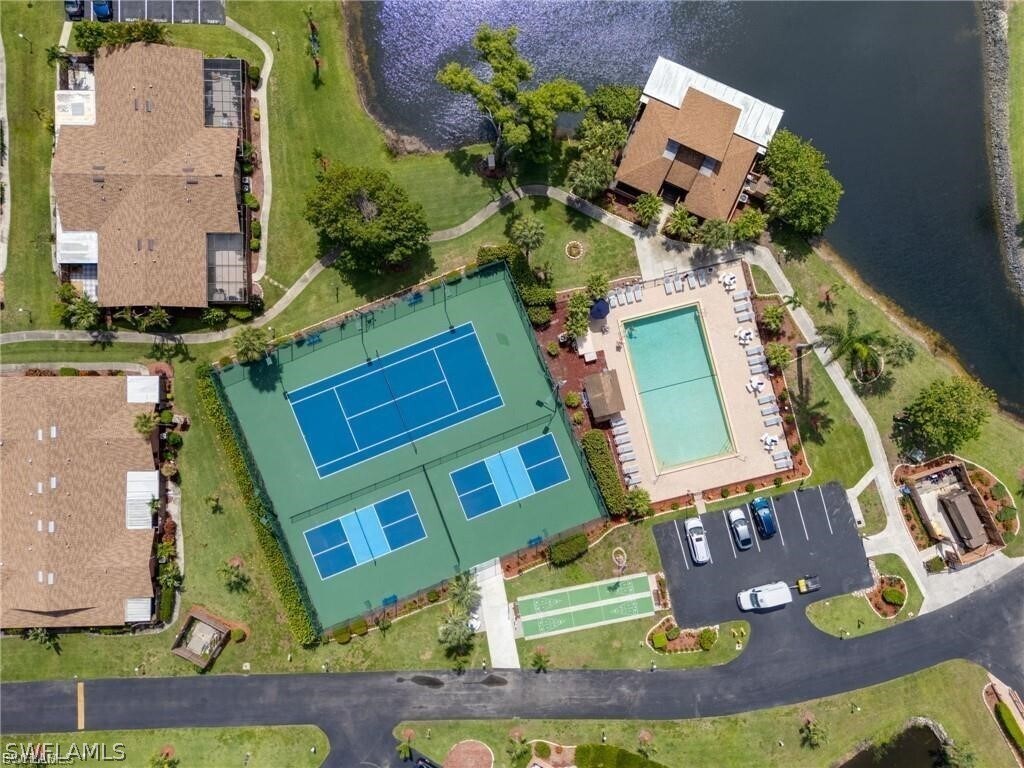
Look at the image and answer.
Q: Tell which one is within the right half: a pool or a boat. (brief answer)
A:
pool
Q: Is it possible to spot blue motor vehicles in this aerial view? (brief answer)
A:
Yes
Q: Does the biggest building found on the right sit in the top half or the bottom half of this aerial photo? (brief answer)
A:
top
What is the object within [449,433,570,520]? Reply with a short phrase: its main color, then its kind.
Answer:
blue sports court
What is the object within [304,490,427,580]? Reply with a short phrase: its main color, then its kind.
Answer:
blue sports court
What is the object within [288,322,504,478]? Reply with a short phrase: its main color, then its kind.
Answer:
blue tennis court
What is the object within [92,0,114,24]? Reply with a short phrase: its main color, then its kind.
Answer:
blue car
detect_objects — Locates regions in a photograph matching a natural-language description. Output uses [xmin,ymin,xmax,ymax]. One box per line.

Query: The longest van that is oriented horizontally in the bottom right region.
[735,583,793,612]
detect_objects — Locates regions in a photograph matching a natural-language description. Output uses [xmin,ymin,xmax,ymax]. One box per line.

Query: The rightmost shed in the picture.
[932,491,989,549]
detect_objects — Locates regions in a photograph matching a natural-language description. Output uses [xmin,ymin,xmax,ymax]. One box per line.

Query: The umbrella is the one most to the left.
[590,300,609,319]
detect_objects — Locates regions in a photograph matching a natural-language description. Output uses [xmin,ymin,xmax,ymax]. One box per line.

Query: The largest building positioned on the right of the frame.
[614,57,782,224]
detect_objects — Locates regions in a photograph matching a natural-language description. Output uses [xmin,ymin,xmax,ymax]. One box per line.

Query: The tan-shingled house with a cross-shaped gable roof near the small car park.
[50,43,254,307]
